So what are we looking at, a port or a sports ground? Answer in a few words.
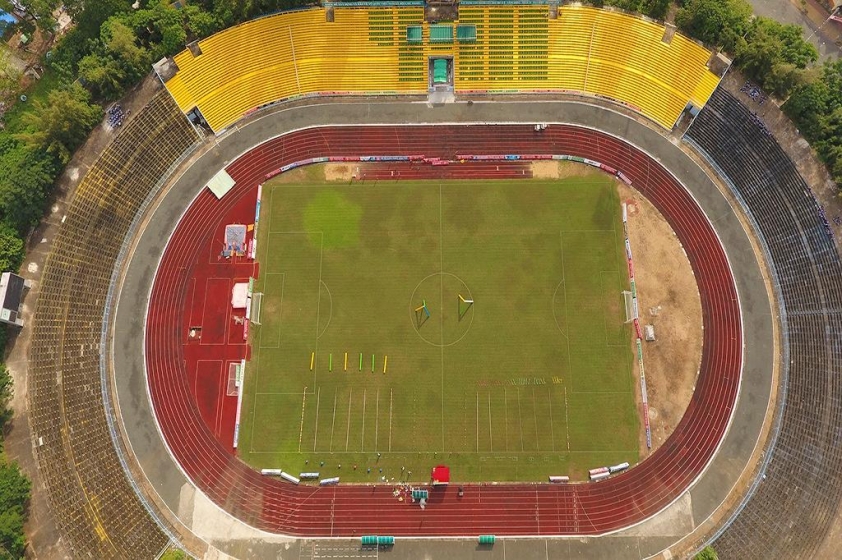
sports ground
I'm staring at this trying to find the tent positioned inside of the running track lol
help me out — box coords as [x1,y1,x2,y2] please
[433,466,450,486]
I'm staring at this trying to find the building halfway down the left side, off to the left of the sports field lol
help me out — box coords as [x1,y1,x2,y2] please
[0,271,35,328]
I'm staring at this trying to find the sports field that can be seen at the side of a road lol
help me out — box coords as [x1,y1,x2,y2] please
[237,158,642,486]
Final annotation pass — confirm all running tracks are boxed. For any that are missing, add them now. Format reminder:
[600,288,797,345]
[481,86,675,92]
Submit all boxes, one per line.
[146,123,743,538]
